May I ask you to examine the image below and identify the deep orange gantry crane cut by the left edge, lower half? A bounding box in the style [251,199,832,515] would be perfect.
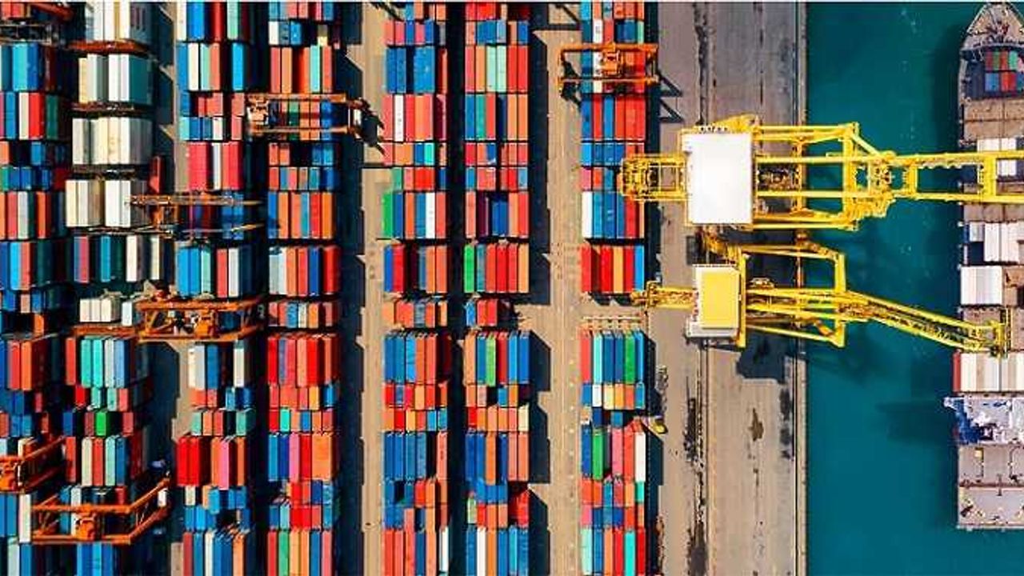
[0,423,70,492]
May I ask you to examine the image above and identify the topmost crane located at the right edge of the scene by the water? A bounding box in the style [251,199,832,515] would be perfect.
[619,114,1024,233]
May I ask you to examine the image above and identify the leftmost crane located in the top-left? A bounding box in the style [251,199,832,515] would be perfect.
[0,7,81,67]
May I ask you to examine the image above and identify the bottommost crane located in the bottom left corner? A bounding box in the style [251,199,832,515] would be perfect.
[31,468,169,544]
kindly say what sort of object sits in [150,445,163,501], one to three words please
vehicle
